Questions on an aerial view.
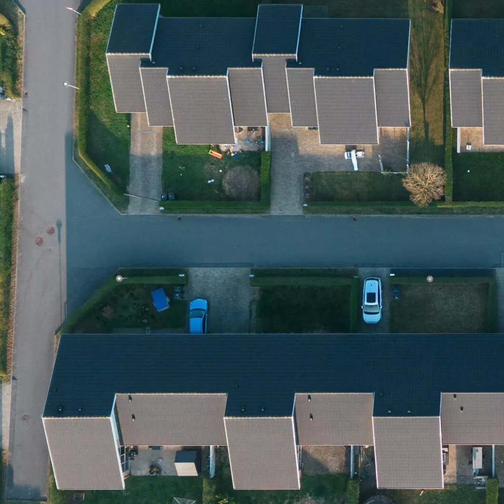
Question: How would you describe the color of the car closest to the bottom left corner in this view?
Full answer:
In this view, the car closest to the bottom left corner is blue.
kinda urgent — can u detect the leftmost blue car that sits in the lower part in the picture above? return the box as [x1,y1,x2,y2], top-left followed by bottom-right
[184,299,207,334]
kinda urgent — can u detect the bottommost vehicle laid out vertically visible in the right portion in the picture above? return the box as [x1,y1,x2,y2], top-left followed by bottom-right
[359,277,381,324]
